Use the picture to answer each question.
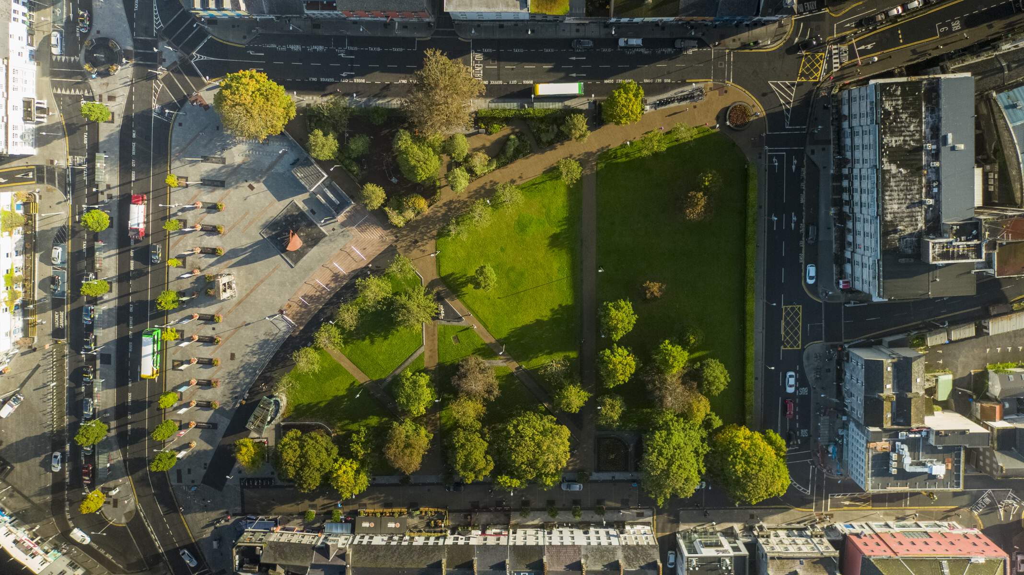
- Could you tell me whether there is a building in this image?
Yes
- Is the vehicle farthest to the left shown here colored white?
Yes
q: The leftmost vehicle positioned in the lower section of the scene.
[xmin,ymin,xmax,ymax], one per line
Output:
[0,393,26,417]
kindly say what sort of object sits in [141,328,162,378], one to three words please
bus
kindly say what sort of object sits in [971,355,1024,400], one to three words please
building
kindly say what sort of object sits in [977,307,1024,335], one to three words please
shed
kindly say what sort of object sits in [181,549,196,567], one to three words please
car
